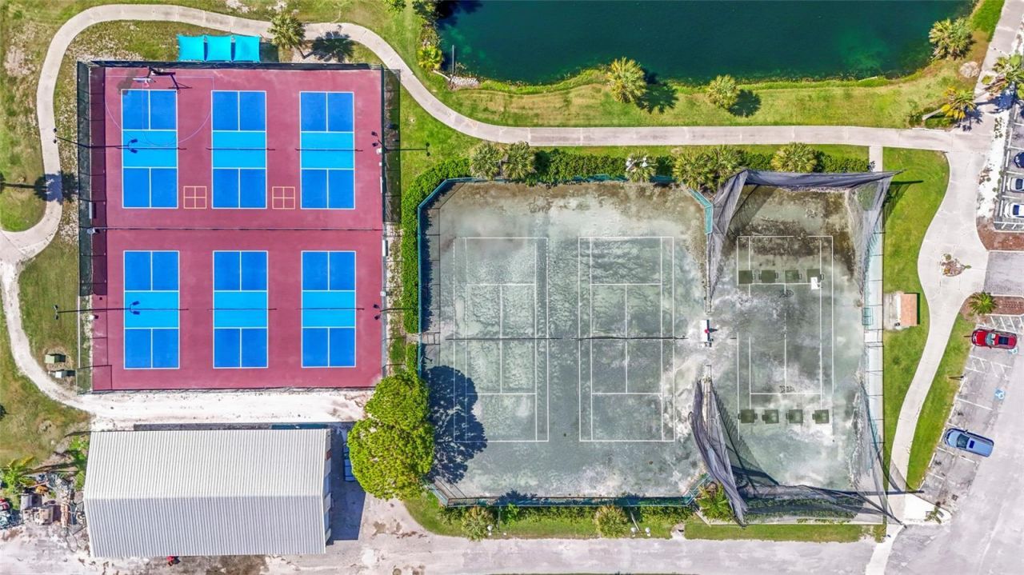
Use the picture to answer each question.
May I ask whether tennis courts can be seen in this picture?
Yes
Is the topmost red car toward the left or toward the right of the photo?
right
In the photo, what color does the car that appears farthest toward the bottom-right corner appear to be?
blue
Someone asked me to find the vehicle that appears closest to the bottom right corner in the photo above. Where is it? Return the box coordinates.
[943,429,996,457]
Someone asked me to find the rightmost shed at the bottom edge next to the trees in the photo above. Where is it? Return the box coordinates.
[83,427,333,557]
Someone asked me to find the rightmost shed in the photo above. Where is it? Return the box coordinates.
[878,292,914,326]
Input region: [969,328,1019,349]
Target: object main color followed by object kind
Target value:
red car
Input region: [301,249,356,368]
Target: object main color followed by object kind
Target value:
blue sports court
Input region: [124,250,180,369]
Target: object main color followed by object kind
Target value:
blue sports court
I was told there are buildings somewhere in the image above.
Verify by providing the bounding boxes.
[878,292,914,326]
[83,427,333,557]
